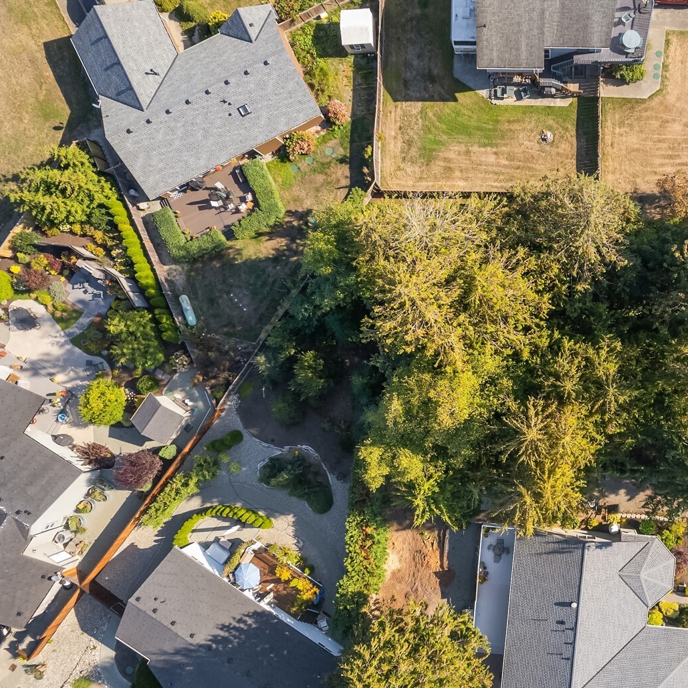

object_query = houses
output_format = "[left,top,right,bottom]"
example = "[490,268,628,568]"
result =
[0,373,99,629]
[474,0,615,93]
[115,543,346,688]
[501,527,688,688]
[70,0,326,202]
